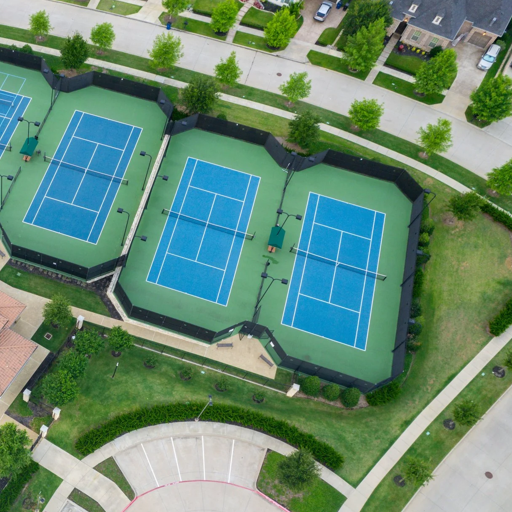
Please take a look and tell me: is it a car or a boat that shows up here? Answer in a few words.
car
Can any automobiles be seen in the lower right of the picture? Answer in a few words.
No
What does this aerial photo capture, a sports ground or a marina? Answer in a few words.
sports ground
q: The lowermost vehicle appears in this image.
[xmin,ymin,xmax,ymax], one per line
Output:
[482,41,506,66]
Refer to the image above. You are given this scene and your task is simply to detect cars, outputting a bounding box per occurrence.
[482,41,506,66]
[316,0,333,20]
